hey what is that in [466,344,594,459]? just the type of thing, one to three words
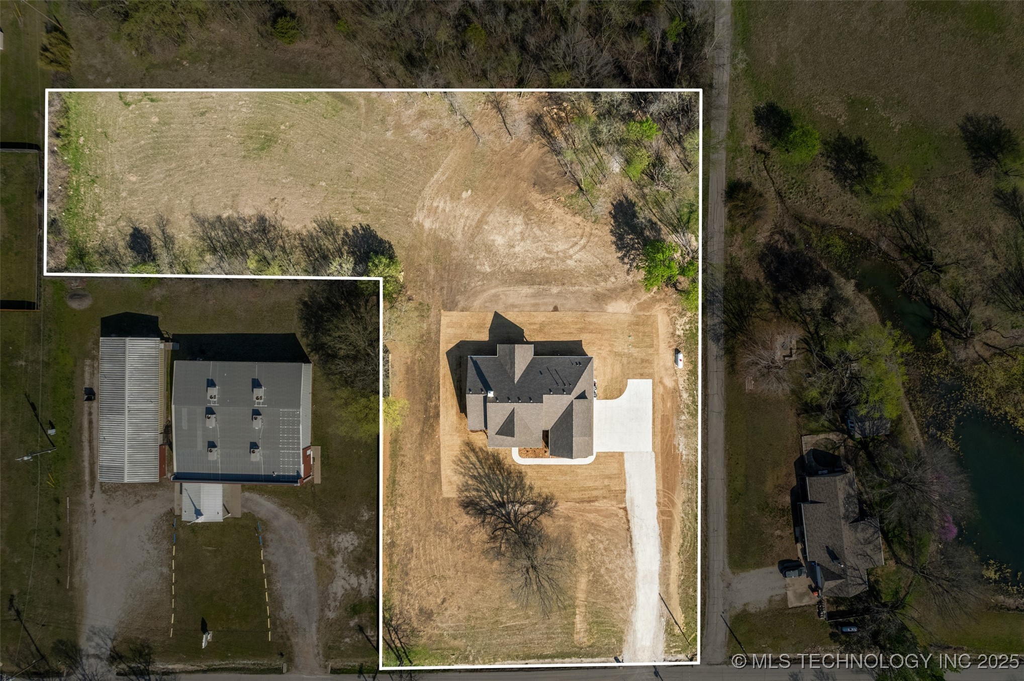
house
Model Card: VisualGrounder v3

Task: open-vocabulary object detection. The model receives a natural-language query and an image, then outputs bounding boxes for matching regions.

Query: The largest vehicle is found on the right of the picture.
[781,567,805,579]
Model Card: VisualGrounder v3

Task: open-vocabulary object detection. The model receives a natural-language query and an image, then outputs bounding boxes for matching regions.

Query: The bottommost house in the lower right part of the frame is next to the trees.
[802,471,884,597]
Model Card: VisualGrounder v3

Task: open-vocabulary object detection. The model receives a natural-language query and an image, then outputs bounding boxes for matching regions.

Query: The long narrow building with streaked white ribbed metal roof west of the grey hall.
[99,337,165,483]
